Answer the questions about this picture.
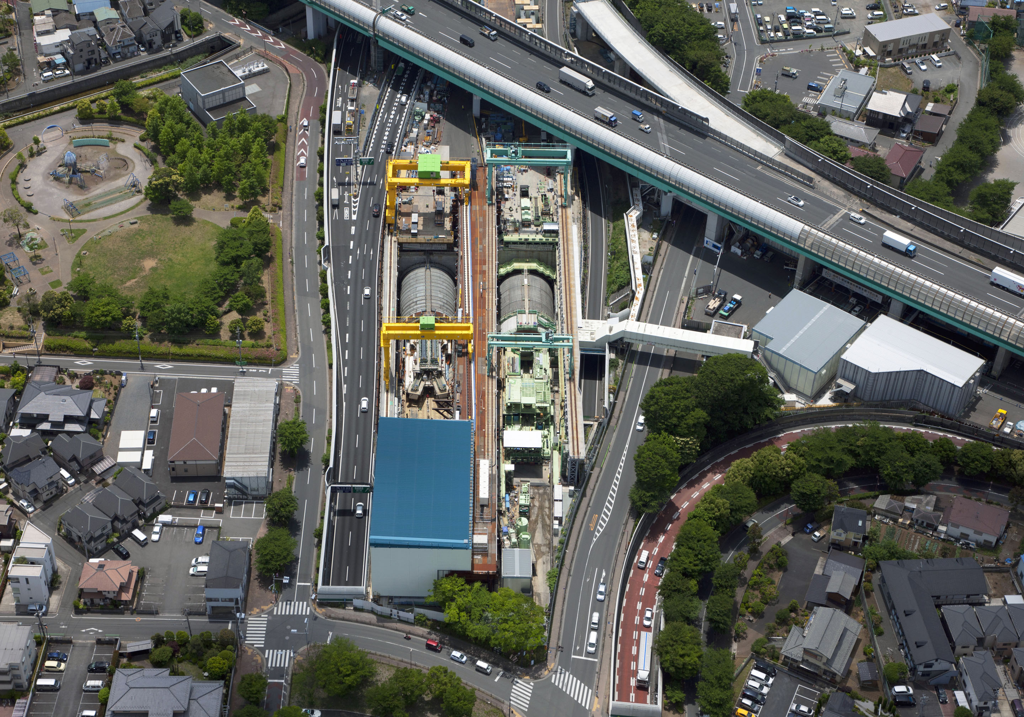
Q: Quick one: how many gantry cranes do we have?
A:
4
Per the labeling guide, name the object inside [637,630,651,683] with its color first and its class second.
white vehicle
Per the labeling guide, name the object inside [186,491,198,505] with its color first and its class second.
blue vehicle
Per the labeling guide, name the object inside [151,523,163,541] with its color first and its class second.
white vehicle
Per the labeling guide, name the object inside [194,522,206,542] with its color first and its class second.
blue vehicle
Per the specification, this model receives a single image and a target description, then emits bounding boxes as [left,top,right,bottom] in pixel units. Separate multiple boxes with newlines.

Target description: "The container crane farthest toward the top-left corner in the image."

[379,151,474,236]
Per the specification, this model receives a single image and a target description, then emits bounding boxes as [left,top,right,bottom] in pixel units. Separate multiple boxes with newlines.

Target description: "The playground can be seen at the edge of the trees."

[17,137,155,219]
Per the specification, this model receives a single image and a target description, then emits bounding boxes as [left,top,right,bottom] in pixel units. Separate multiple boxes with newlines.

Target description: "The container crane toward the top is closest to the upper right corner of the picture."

[485,138,573,211]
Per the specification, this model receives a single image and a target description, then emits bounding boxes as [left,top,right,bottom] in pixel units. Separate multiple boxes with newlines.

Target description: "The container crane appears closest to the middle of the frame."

[483,312,578,383]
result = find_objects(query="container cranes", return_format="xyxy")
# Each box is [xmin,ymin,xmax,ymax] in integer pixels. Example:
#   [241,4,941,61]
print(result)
[485,138,573,211]
[379,314,476,395]
[379,151,474,236]
[483,312,578,383]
